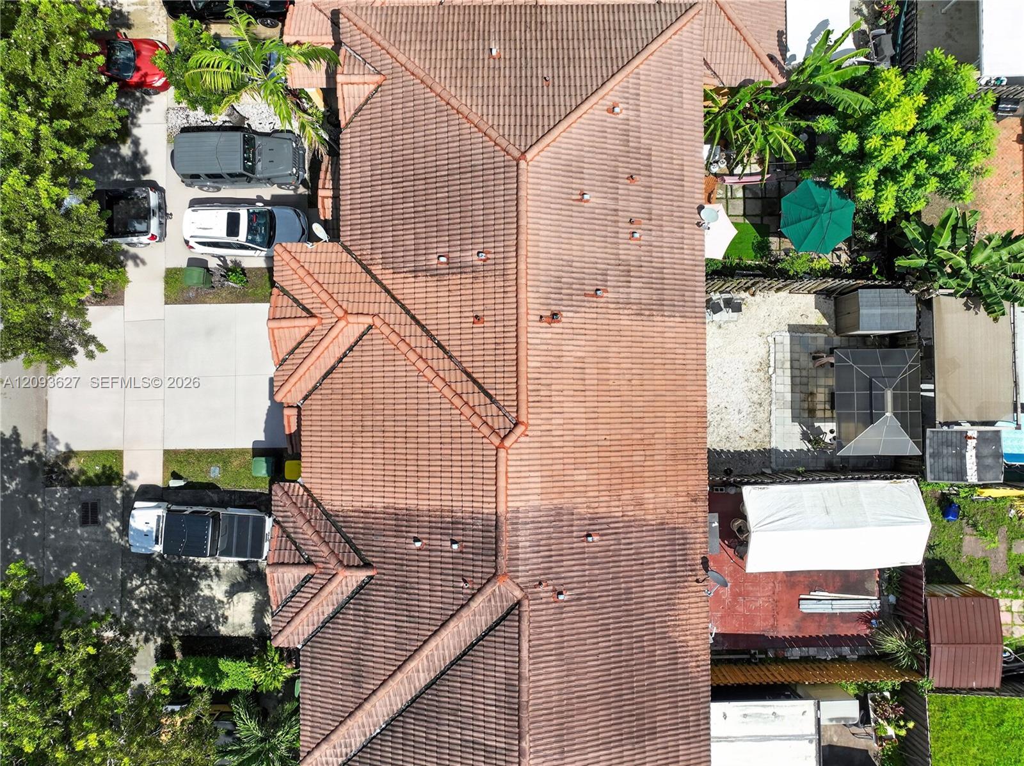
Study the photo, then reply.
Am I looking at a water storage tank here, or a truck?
truck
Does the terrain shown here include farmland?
No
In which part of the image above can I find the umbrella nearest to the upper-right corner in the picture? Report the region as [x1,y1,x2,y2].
[778,181,853,255]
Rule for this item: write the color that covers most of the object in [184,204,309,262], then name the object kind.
white car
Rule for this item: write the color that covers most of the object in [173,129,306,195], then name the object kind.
gray car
